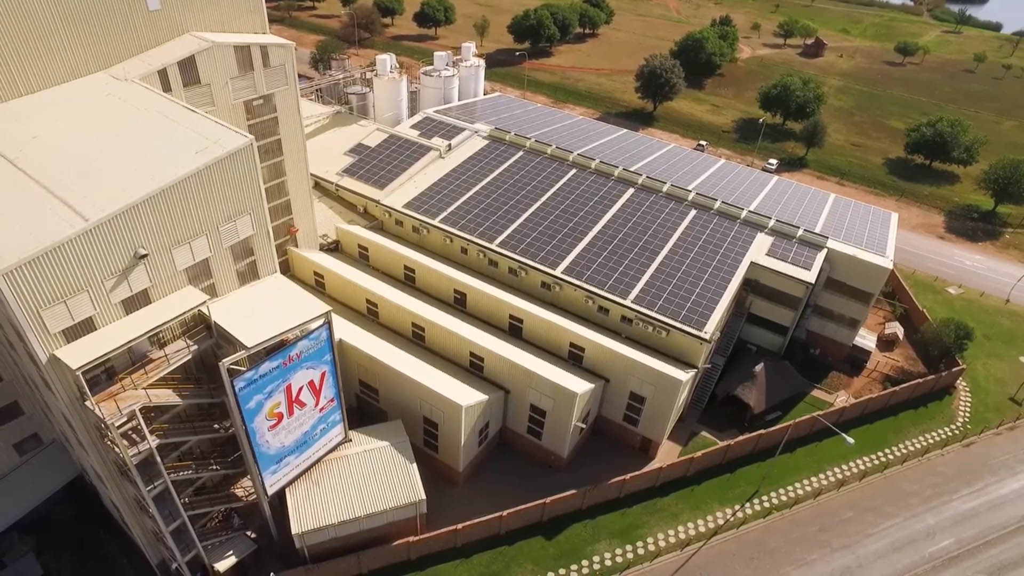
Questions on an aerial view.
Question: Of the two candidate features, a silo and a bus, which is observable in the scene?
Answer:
silo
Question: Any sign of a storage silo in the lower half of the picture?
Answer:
No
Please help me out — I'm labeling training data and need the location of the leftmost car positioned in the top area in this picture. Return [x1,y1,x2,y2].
[696,138,712,151]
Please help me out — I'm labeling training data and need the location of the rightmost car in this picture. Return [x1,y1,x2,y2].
[765,156,782,172]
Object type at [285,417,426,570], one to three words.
shed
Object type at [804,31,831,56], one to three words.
shed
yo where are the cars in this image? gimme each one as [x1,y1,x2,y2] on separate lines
[765,156,782,172]
[696,138,712,151]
